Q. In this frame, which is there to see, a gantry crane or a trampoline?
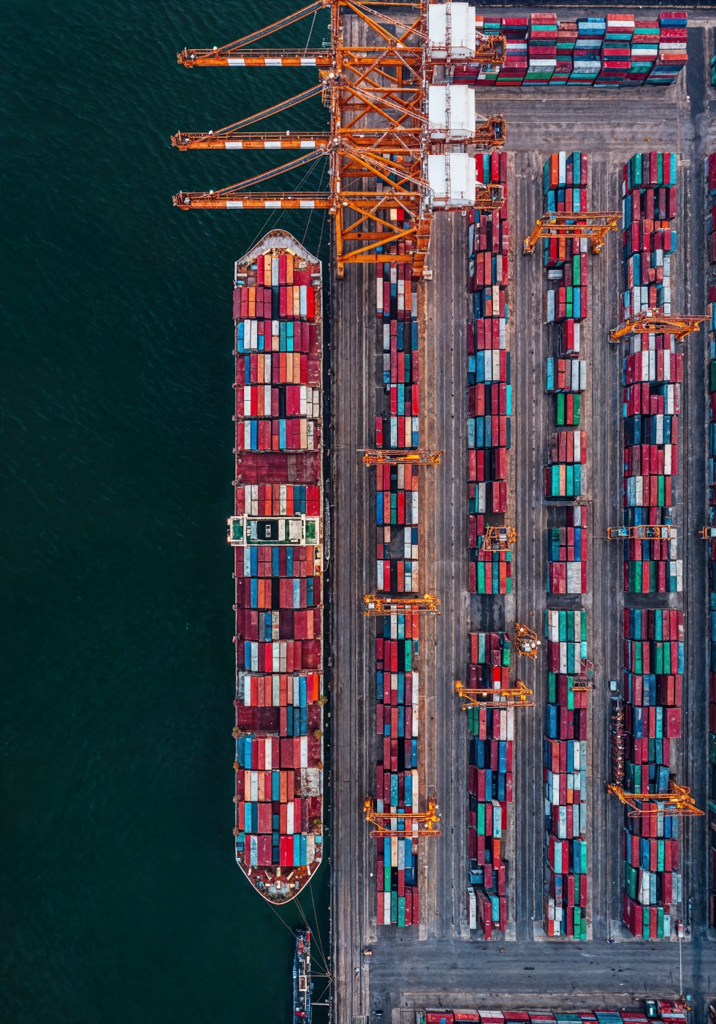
gantry crane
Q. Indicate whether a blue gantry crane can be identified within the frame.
No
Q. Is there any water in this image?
Yes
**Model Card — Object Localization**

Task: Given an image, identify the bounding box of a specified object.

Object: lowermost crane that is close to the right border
[611,768,707,818]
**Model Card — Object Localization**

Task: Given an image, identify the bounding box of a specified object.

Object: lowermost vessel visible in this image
[292,923,313,1024]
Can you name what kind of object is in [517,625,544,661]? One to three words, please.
work vehicle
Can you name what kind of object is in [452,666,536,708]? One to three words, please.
crane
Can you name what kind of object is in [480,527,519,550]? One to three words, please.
crane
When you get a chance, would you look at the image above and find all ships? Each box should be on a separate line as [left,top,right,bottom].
[292,923,313,1024]
[226,229,327,904]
